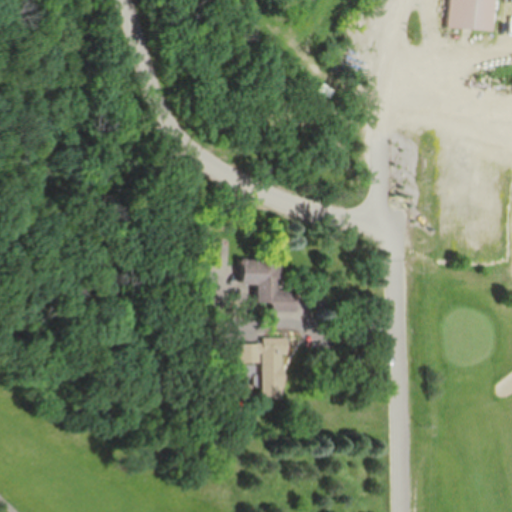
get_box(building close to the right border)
[448,0,496,30]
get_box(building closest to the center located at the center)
[244,258,299,313]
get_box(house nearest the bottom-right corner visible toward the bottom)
[244,337,288,397]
